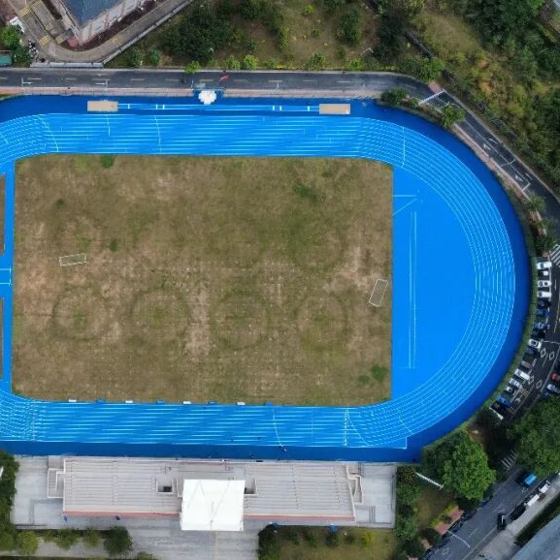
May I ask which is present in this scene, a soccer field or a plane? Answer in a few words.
soccer field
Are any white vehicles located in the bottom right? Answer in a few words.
Yes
